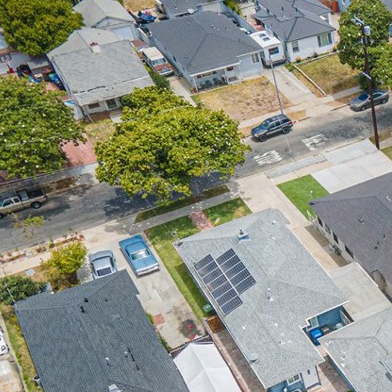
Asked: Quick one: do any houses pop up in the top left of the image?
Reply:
Yes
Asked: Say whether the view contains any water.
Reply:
No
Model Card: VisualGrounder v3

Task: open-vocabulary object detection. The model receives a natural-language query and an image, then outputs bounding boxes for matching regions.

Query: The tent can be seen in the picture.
[173,344,241,392]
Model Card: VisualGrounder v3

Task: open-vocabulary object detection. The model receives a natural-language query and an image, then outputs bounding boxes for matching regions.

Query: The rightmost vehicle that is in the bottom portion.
[120,232,160,275]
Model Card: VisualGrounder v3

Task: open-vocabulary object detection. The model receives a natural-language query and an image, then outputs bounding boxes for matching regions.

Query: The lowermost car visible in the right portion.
[247,112,295,142]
